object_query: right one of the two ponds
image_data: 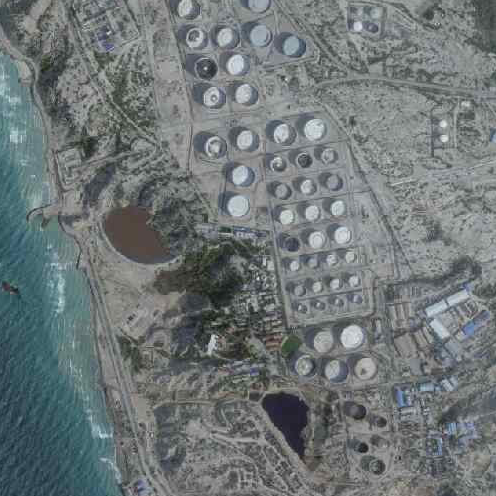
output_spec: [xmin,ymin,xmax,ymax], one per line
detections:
[262,392,308,457]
